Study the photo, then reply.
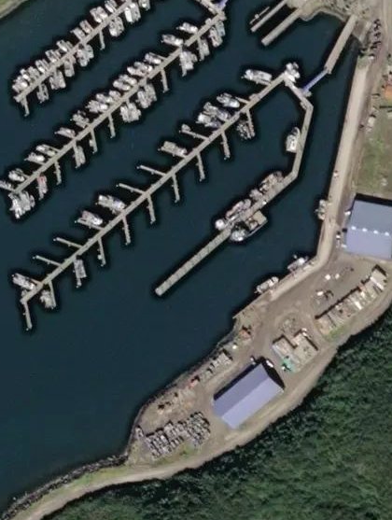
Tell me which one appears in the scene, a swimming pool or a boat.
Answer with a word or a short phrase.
boat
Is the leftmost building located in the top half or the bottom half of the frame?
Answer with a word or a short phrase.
bottom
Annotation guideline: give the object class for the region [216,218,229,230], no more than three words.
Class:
boat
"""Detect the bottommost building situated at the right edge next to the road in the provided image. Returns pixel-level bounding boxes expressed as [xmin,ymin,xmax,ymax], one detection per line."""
[345,199,392,258]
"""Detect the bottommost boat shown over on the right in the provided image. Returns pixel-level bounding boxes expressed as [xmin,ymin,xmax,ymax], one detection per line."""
[256,277,278,294]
